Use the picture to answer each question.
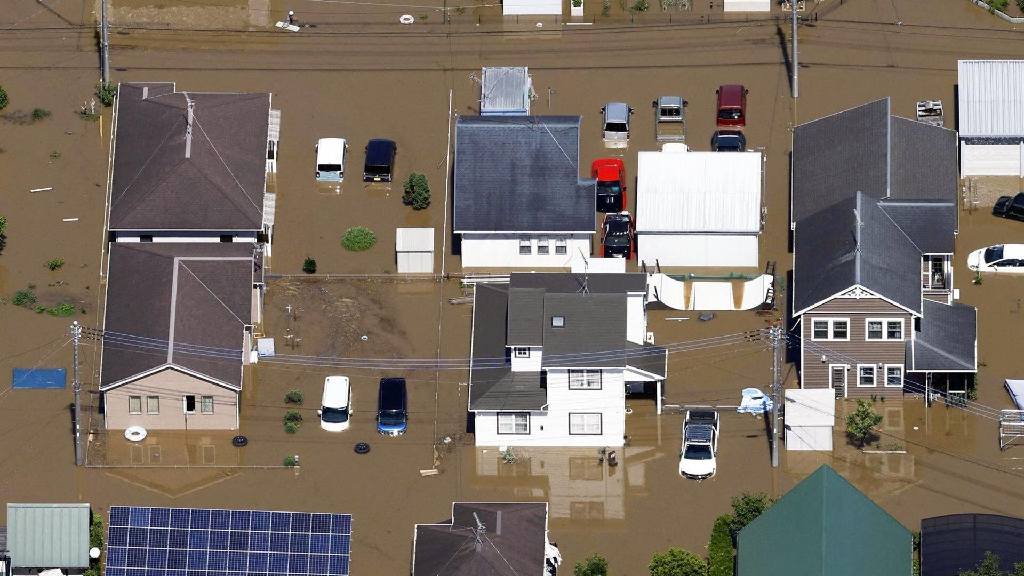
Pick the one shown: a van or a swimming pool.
van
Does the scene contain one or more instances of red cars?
Yes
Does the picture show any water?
Yes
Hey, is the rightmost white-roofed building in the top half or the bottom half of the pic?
top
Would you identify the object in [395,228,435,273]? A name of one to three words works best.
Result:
shed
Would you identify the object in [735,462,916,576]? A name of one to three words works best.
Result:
barn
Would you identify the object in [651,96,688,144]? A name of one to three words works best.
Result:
truck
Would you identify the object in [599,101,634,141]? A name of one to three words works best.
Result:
car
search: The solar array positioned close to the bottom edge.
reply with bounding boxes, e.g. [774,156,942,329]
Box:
[100,506,356,576]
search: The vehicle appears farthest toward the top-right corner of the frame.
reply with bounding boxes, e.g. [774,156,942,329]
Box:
[917,103,943,127]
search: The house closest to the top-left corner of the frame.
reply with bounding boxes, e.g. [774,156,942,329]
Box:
[108,78,279,259]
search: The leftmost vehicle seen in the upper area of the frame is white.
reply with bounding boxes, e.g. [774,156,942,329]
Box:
[314,138,349,181]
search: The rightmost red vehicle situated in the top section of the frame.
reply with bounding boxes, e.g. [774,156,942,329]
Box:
[715,85,750,126]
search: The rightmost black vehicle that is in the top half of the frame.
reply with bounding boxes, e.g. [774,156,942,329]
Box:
[988,185,1024,218]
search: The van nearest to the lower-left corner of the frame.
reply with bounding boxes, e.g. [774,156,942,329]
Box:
[316,374,354,429]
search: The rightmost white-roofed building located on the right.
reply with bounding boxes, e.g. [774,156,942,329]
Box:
[957,58,1024,177]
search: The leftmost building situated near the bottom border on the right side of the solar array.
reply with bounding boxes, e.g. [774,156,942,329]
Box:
[412,502,549,576]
